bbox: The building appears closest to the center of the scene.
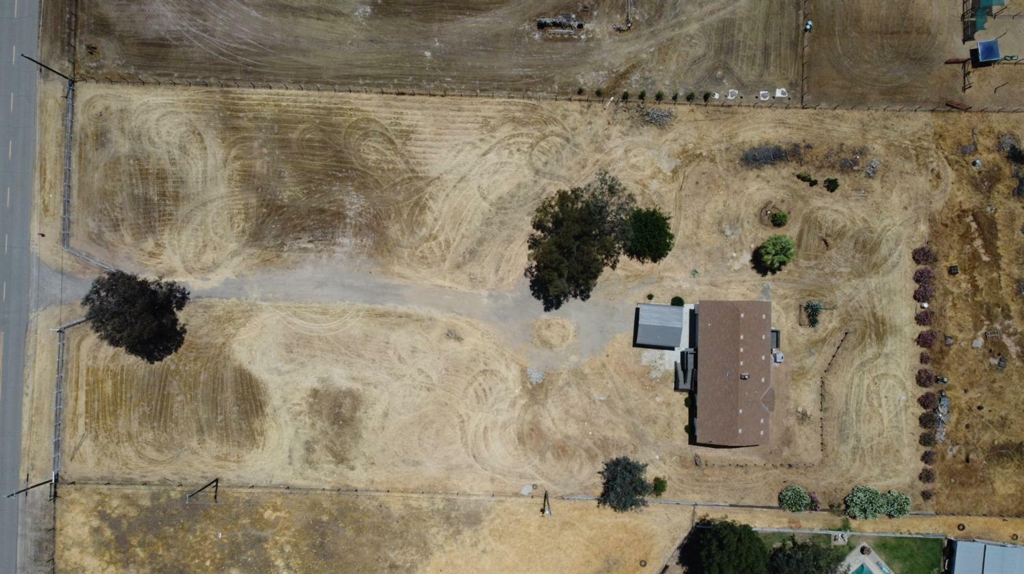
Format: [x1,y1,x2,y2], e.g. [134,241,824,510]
[635,304,683,347]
